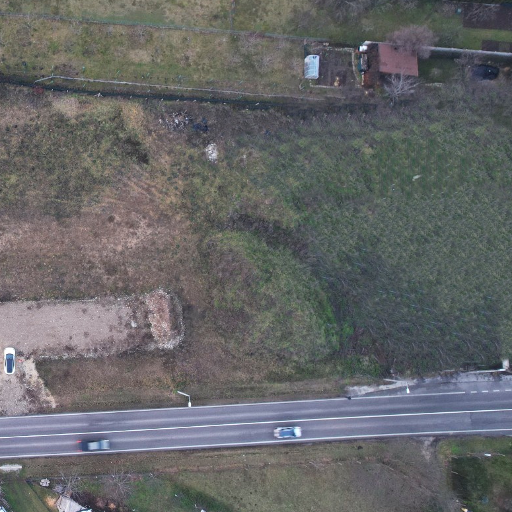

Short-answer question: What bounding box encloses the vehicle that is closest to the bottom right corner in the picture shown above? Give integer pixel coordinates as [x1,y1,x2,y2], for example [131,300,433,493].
[275,426,305,441]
